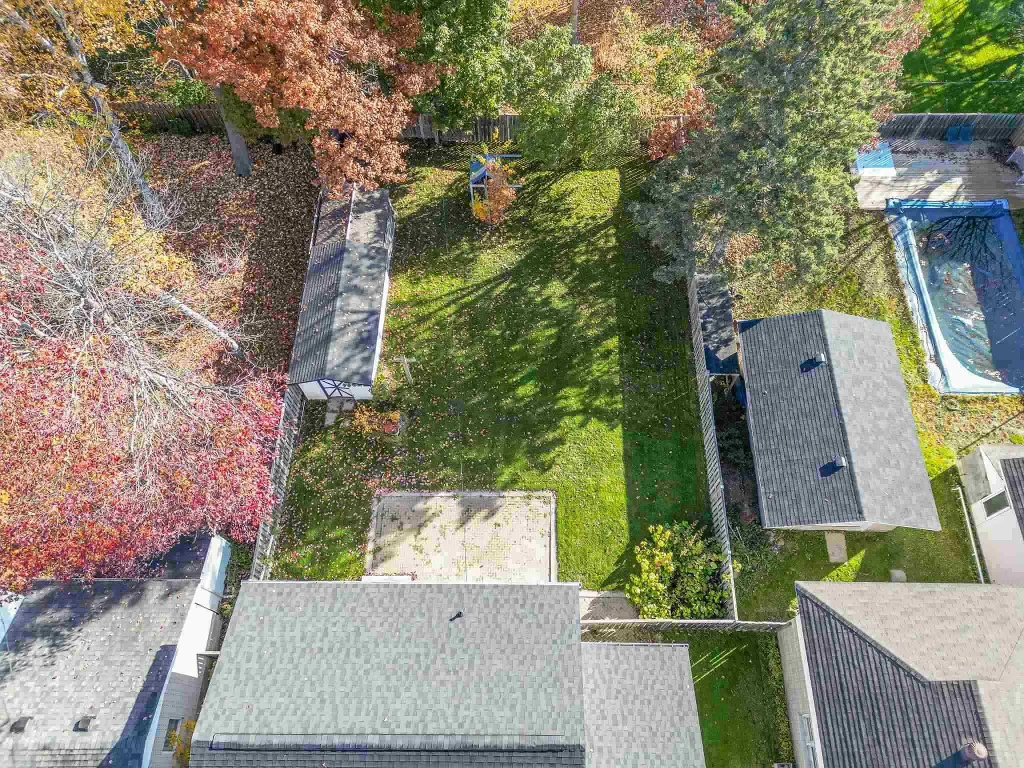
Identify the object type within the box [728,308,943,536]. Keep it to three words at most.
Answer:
building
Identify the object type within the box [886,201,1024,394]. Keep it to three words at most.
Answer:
swimming pool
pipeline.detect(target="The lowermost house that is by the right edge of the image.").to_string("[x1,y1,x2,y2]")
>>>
[782,578,1024,768]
